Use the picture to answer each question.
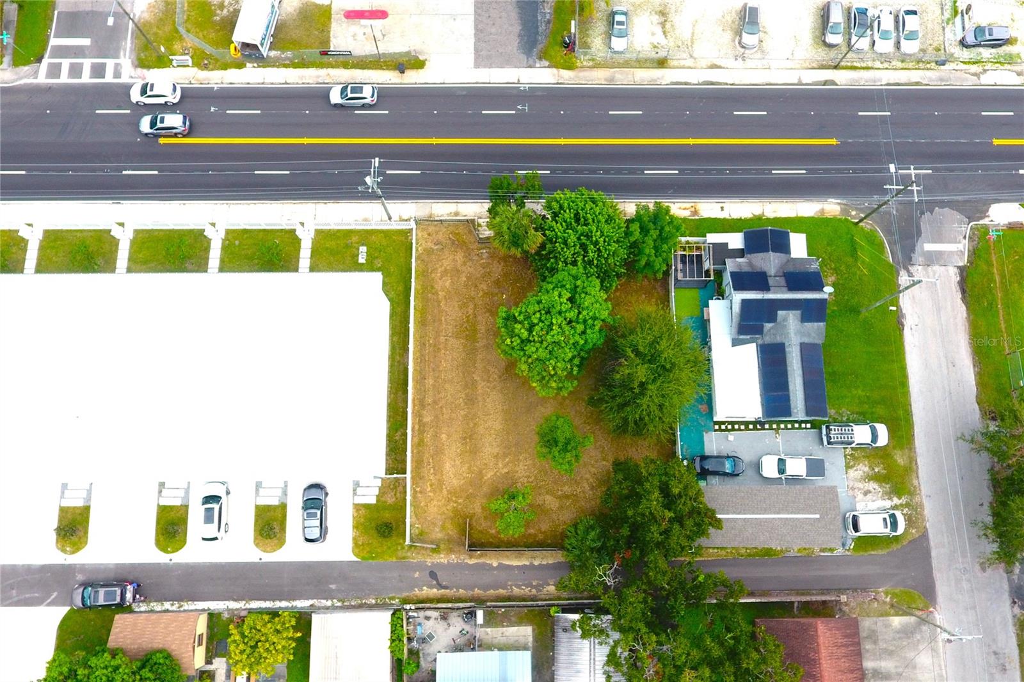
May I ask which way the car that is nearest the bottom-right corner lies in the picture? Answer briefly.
horizontally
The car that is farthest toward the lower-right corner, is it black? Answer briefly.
No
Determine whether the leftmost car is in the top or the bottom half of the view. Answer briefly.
bottom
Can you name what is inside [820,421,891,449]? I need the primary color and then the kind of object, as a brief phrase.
white truck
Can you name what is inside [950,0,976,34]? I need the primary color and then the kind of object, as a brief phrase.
white trailer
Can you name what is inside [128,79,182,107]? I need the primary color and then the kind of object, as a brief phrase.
white car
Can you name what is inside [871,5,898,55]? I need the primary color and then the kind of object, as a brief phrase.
white car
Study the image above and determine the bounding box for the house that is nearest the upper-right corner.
[699,228,831,421]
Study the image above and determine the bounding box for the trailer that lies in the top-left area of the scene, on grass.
[227,0,274,65]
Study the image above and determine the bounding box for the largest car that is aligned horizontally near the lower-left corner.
[70,581,133,612]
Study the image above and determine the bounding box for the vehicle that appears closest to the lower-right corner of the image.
[845,510,907,539]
